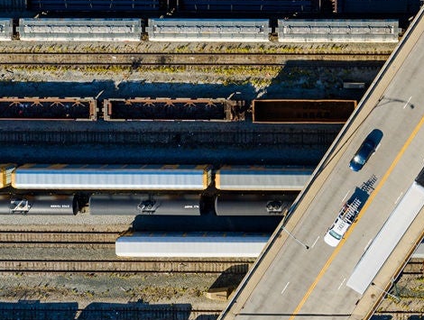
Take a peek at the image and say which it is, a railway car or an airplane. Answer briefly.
railway car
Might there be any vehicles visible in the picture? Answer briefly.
Yes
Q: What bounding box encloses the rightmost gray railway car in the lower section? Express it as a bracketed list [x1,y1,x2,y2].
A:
[209,191,299,218]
